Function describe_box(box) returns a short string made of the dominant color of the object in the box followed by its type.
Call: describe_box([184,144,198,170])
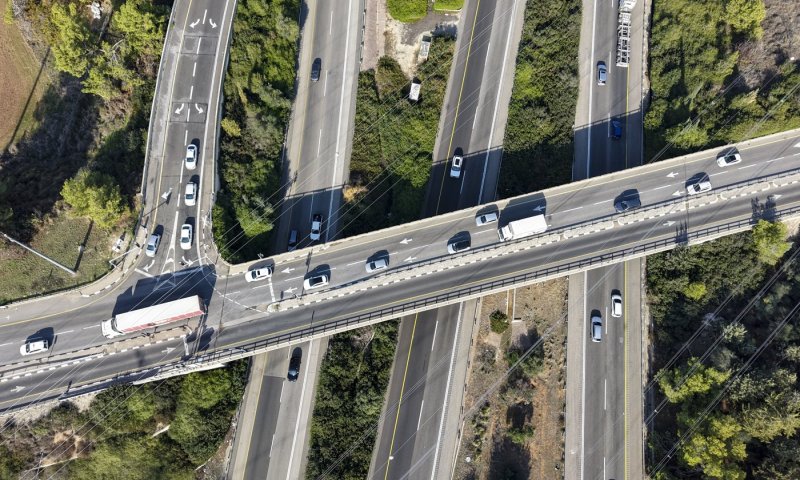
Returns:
white car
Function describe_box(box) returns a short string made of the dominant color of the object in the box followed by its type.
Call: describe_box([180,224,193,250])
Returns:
white vehicle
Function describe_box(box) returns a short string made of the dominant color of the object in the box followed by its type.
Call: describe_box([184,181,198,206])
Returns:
white car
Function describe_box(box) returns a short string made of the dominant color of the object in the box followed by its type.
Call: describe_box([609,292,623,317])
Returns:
white vehicle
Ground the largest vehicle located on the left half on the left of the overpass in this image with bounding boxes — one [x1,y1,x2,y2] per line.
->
[101,299,208,339]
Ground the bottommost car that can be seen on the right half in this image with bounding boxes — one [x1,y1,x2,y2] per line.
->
[591,317,603,343]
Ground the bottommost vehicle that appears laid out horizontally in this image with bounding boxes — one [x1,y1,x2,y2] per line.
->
[20,341,49,356]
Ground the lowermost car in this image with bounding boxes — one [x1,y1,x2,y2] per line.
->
[288,356,301,382]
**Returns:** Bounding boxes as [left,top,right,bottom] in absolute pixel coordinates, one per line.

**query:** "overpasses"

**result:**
[209,127,800,363]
